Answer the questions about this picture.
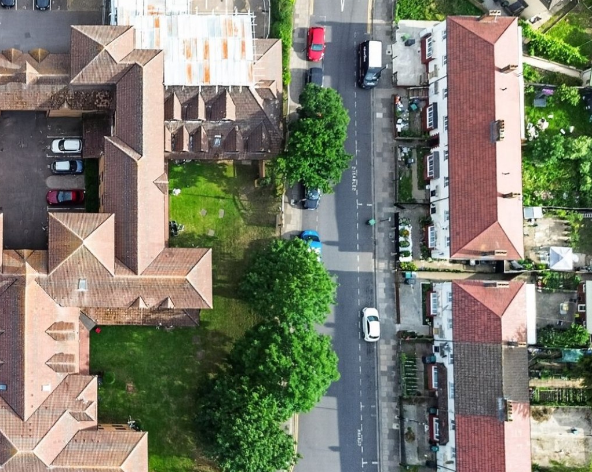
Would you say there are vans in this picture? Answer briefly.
Yes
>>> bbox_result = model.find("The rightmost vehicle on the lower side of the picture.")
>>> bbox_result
[360,307,380,341]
